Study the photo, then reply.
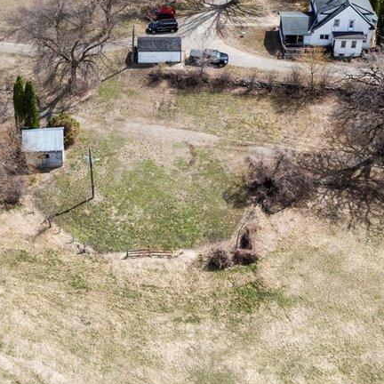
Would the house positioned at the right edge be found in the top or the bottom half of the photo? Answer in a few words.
top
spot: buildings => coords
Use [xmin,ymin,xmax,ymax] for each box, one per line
[278,0,381,65]
[23,125,67,170]
[135,34,182,63]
